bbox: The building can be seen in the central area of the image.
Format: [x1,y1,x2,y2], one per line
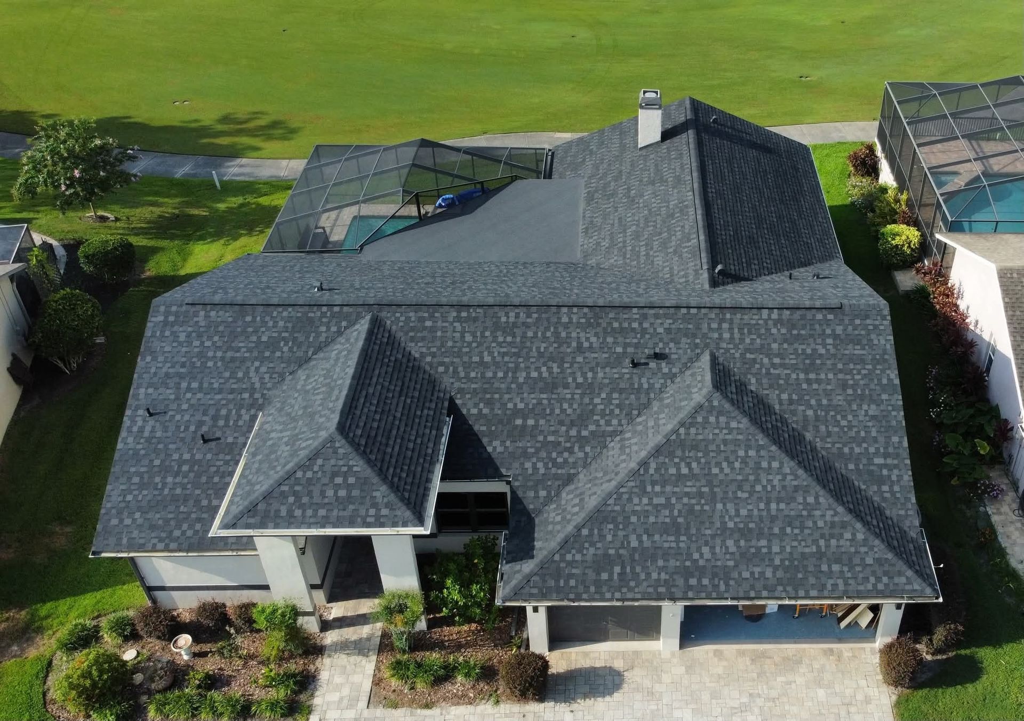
[92,84,945,652]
